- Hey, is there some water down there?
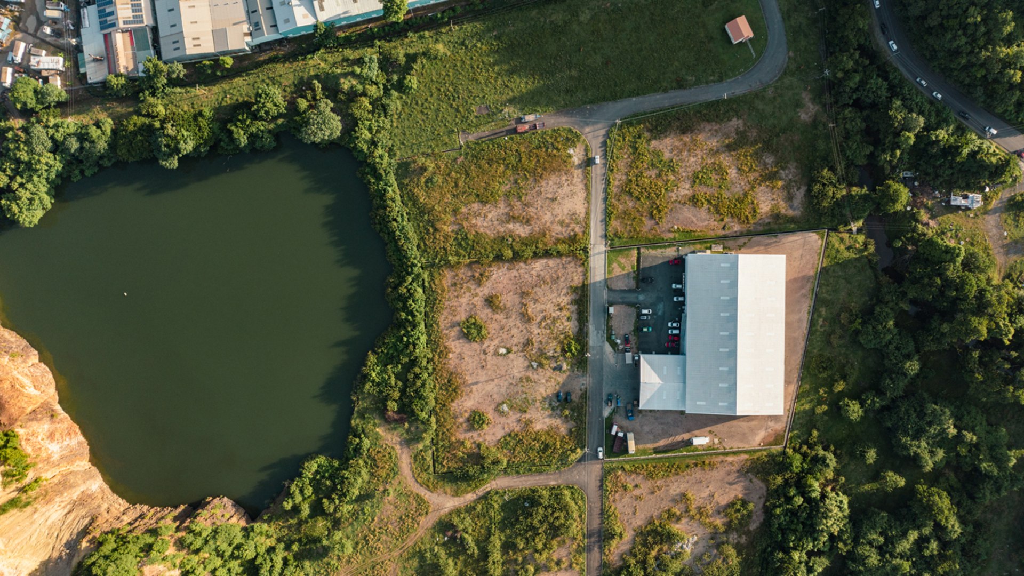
Yes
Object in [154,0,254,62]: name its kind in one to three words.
building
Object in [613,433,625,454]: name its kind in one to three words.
vehicle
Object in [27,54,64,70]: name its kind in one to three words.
vehicle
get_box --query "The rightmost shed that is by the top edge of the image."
[726,16,753,43]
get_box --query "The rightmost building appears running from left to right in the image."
[951,191,985,209]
